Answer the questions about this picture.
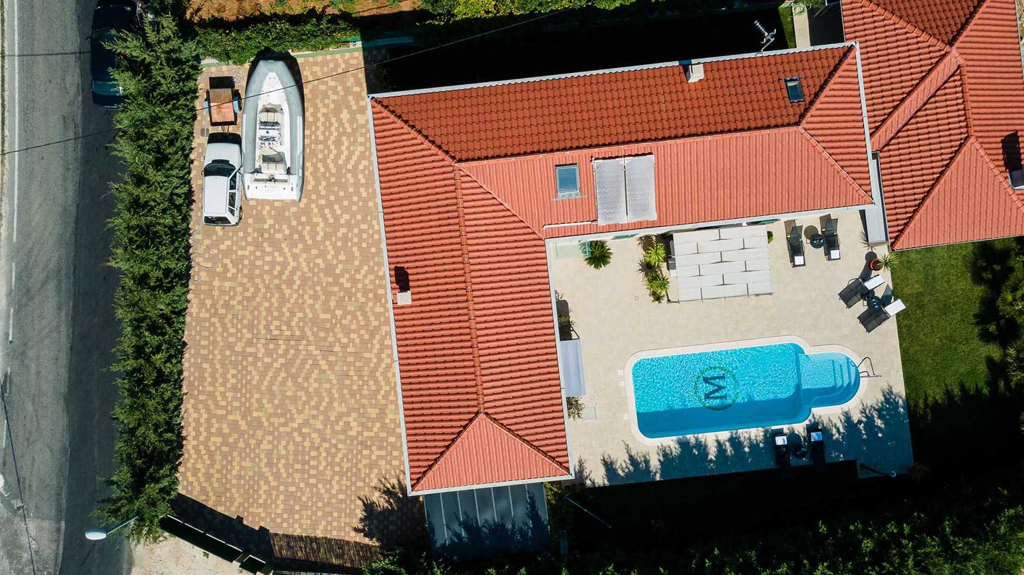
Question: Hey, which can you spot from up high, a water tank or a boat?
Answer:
boat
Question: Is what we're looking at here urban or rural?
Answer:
urban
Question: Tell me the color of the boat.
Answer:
white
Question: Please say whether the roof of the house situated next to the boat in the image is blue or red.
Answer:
red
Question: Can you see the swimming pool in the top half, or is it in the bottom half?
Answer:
bottom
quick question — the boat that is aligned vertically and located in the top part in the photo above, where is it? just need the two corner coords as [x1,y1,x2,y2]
[241,60,305,201]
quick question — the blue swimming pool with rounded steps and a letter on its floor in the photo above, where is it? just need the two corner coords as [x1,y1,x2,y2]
[625,335,869,447]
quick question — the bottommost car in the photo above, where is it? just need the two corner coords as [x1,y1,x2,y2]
[201,142,248,230]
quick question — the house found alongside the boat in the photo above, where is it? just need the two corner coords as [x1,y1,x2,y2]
[362,38,880,502]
